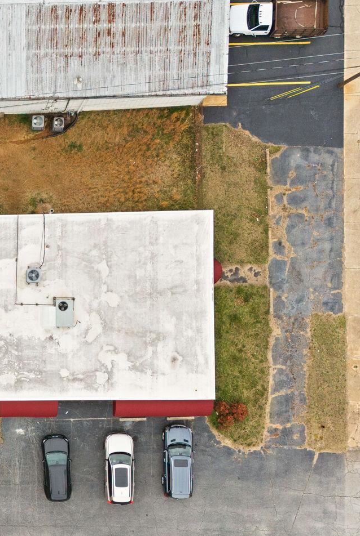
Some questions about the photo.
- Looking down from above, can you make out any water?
No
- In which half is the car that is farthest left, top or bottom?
bottom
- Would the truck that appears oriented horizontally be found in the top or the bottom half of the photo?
top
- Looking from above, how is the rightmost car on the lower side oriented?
vertically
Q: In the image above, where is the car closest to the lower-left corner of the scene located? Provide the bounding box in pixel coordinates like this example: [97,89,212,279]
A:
[41,432,74,502]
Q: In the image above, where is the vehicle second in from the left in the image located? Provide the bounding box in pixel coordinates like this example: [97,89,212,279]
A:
[103,431,139,506]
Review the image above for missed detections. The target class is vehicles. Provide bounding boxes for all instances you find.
[159,423,197,500]
[230,0,325,39]
[41,432,74,502]
[103,431,139,506]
